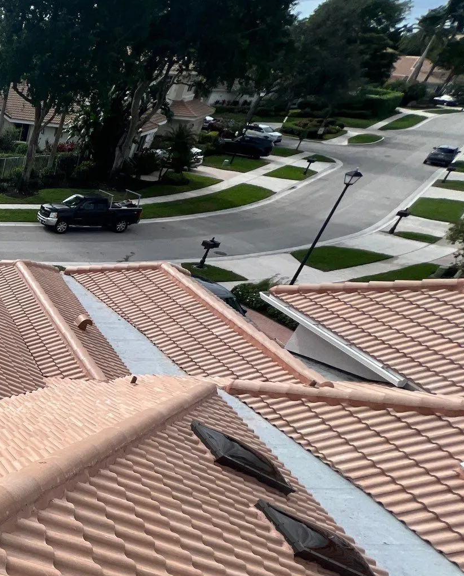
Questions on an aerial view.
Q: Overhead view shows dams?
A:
No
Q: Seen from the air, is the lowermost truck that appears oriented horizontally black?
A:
Yes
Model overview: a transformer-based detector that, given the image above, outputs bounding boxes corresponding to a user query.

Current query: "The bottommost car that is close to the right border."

[423,139,460,163]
